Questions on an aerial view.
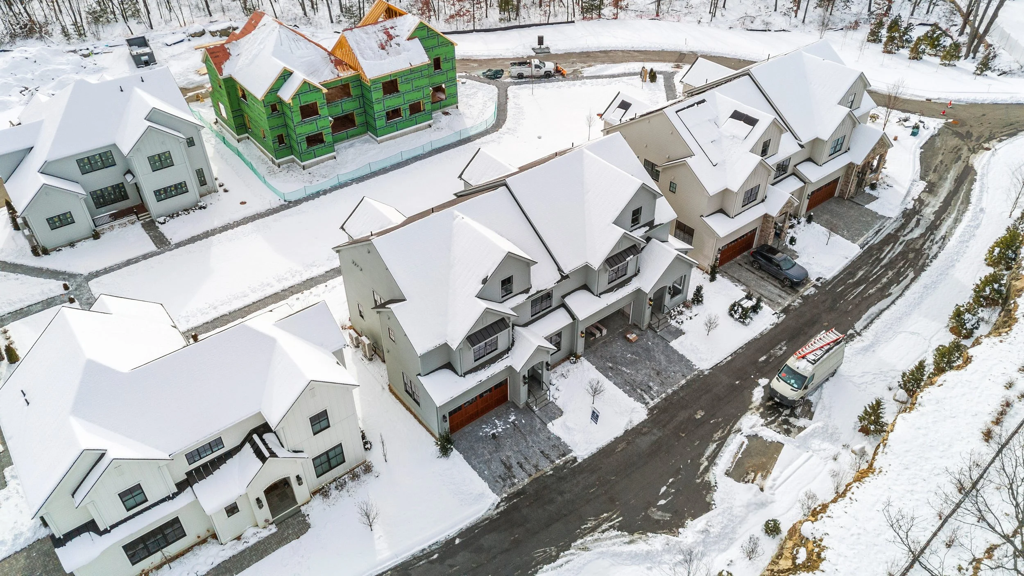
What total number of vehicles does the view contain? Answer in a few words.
3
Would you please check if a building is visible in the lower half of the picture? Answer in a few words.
Yes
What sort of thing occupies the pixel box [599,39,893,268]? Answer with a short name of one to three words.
house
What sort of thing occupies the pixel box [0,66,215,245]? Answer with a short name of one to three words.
house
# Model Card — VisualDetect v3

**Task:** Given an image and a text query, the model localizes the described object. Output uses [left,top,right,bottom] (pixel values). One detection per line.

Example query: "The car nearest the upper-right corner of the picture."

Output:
[750,245,810,287]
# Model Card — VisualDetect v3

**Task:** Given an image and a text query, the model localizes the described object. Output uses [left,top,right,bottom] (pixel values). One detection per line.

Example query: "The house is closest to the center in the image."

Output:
[332,131,699,435]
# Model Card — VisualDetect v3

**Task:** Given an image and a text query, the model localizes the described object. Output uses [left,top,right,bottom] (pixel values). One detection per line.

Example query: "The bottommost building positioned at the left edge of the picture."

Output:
[0,293,365,576]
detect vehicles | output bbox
[769,328,849,406]
[512,59,565,79]
[750,245,810,287]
